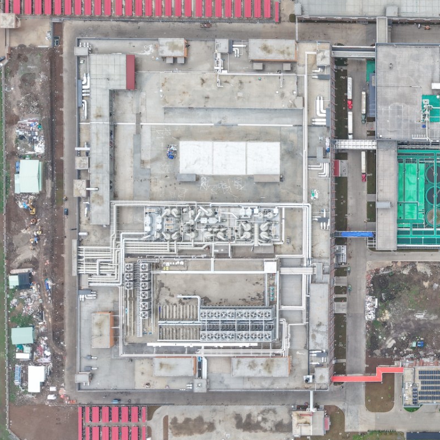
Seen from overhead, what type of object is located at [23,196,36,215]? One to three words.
vehicle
